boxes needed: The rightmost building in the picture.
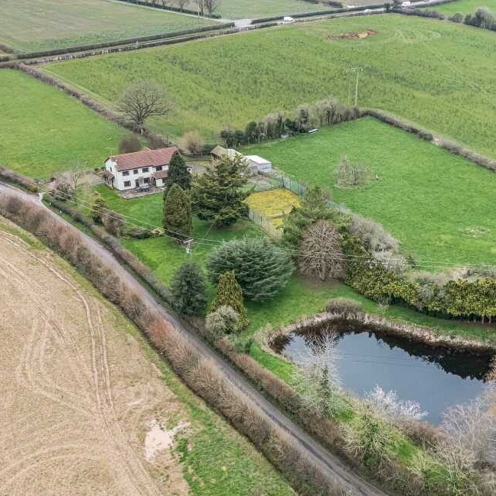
[248,154,275,174]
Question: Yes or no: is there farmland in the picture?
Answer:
Yes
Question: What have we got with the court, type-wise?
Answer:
tennis court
